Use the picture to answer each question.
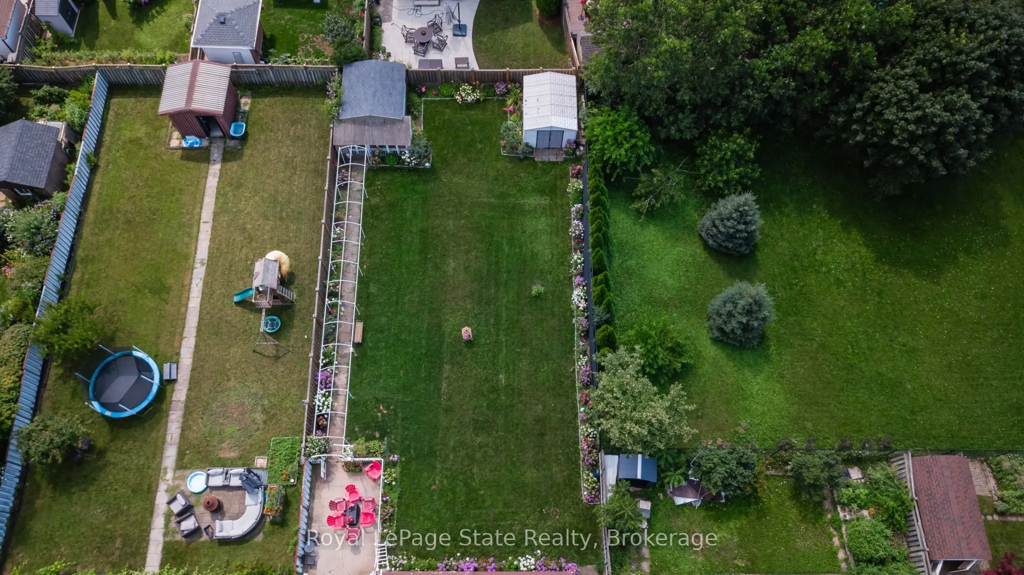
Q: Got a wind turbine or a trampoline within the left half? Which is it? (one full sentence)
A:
It is a trampoline that can be seen within the left half.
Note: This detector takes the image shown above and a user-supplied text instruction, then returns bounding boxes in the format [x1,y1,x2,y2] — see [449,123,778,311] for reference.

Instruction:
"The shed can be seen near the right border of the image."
[908,455,992,575]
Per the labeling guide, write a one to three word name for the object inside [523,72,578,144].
shed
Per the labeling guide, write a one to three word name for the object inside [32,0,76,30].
shed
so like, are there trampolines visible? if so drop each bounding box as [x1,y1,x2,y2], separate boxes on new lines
[73,346,166,420]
